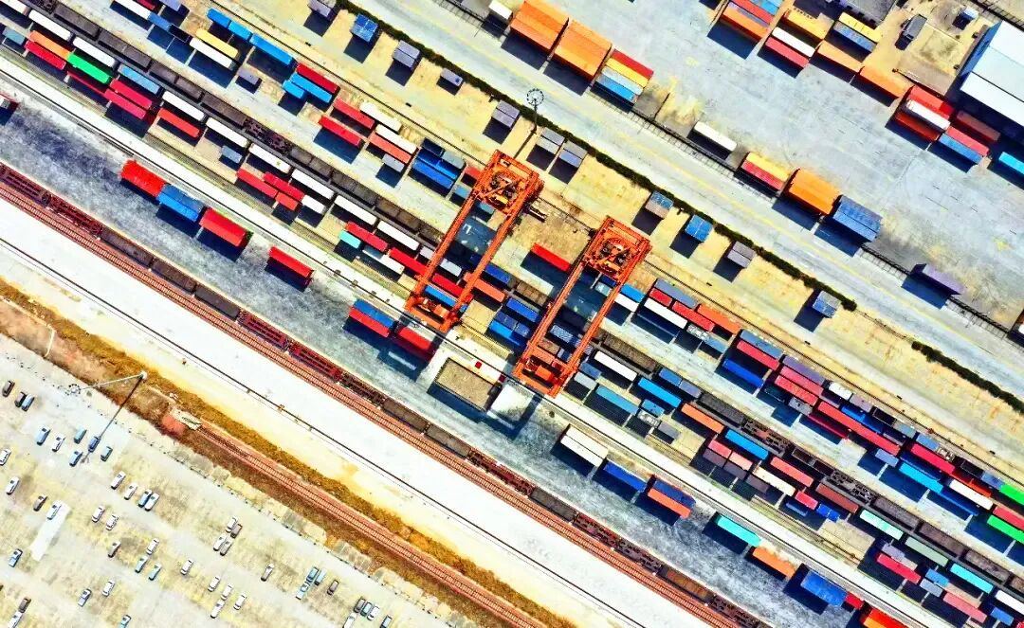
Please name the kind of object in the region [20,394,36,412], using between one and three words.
car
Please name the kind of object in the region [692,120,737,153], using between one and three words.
shipping container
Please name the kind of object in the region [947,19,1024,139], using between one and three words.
building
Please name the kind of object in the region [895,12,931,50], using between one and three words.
truck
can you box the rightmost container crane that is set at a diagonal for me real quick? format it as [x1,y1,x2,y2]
[505,217,649,402]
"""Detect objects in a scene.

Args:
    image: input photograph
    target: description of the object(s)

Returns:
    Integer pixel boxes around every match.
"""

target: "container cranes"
[505,217,649,402]
[403,151,538,341]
